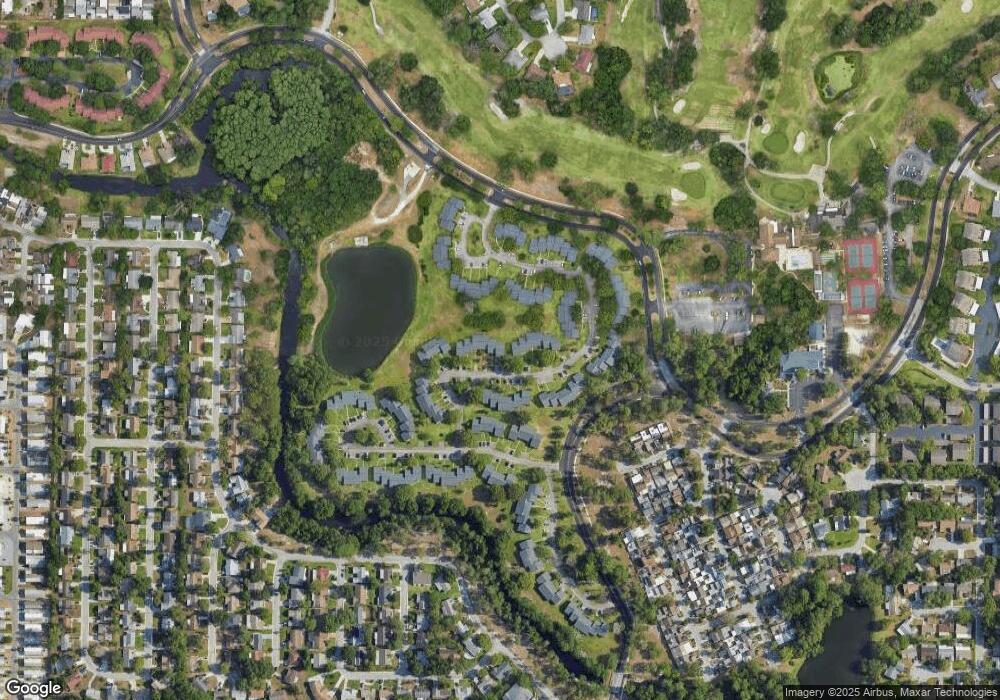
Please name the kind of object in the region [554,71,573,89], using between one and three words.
house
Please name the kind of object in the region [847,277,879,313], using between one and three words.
tennis court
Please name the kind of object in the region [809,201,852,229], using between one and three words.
building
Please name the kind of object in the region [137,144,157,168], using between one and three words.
house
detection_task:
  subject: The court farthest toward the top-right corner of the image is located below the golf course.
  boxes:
[845,238,877,273]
